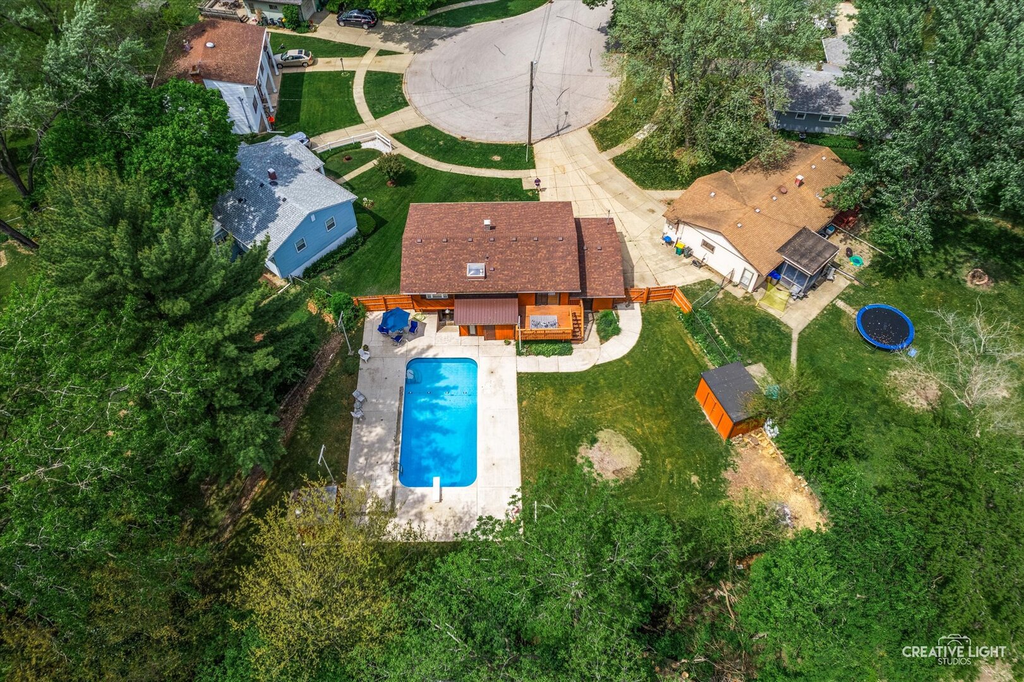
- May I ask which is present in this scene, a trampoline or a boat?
trampoline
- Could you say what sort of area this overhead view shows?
residential area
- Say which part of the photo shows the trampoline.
right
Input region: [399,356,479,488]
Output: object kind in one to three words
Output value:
swimming pool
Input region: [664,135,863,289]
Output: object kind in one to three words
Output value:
house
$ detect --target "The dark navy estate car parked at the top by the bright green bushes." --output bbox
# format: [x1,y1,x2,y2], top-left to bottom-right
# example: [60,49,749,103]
[334,7,379,31]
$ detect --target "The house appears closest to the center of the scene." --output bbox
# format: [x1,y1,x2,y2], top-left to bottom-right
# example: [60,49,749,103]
[400,202,626,337]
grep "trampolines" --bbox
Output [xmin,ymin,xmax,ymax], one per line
[855,307,913,355]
